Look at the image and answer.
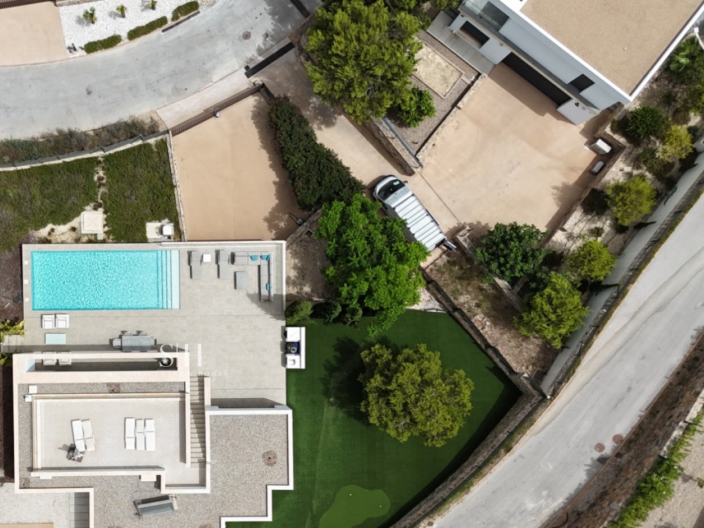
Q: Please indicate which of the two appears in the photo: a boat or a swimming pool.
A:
swimming pool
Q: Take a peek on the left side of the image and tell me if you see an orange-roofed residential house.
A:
No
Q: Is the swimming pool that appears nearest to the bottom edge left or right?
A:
left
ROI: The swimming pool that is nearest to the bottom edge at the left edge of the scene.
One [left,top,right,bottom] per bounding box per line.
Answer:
[28,249,180,312]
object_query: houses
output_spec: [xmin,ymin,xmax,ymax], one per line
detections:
[433,0,701,135]
[14,351,293,528]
